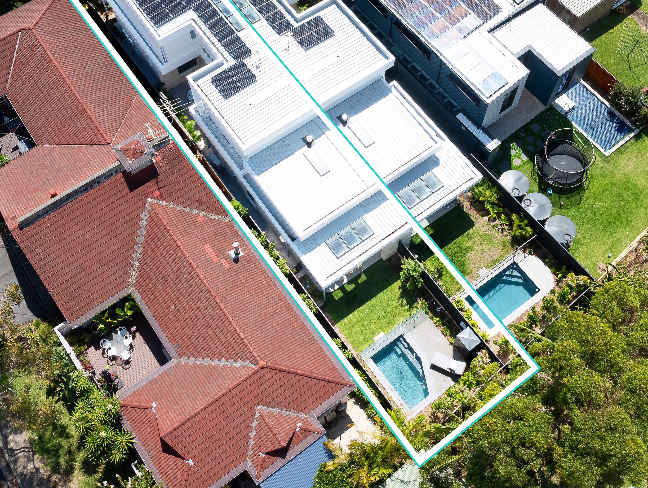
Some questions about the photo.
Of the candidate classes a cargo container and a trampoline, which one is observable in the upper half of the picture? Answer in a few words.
trampoline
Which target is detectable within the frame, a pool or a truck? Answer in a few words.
pool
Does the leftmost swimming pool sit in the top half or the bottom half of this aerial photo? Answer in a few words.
bottom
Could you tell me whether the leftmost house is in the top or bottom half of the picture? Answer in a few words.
top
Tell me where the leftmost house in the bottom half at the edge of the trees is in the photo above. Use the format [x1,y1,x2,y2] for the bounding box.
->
[20,140,355,488]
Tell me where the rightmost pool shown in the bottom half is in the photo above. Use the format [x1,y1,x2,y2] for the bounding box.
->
[457,255,547,335]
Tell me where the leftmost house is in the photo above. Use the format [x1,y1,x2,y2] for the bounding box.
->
[0,0,172,231]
